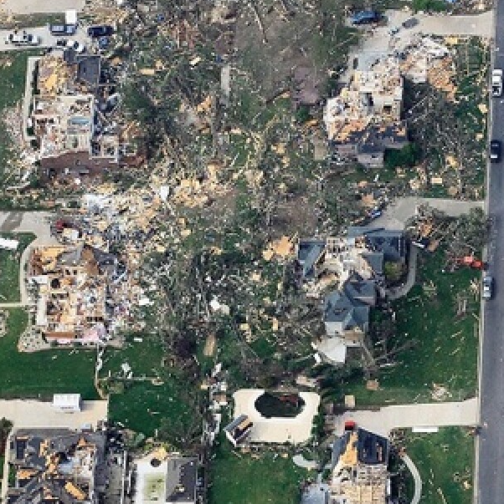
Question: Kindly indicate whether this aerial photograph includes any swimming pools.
Yes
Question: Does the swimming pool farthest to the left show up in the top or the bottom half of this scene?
bottom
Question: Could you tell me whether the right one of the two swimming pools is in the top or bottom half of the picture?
bottom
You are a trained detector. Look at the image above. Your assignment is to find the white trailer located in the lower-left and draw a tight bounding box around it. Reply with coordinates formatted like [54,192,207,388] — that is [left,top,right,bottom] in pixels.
[49,389,79,412]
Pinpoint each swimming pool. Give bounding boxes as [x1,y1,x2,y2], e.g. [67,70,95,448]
[142,472,166,503]
[253,392,305,419]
